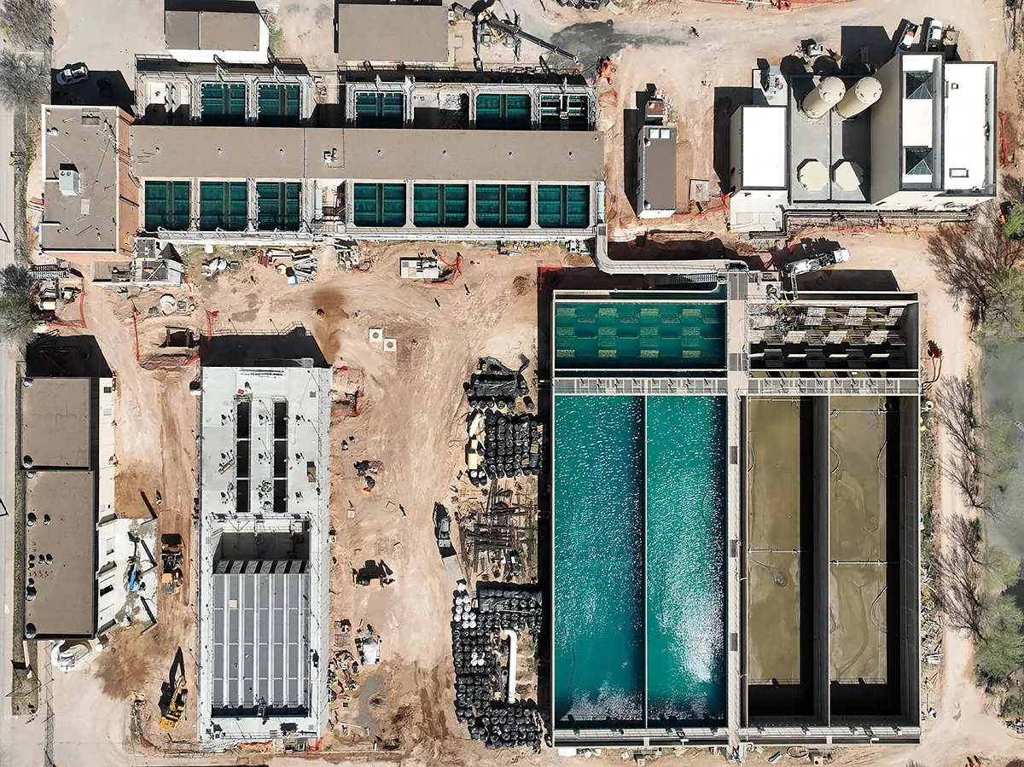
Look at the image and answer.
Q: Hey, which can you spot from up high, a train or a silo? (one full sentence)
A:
The one in the frame is a silo.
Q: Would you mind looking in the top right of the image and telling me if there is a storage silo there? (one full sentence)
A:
Yes, there is a storage silo in the top right of the image.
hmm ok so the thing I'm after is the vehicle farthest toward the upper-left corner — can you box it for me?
[51,60,89,83]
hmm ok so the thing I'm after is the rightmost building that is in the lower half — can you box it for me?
[189,359,331,743]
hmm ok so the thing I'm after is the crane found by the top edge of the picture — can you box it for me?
[476,0,576,66]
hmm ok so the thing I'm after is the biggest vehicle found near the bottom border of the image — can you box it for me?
[154,684,184,732]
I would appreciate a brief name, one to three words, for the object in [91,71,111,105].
car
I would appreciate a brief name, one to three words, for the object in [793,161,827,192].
storage tank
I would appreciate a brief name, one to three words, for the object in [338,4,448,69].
building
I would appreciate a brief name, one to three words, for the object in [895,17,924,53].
truck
